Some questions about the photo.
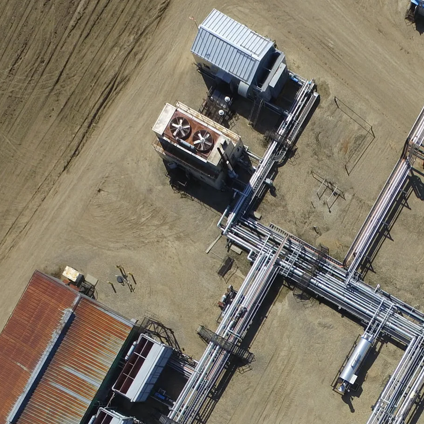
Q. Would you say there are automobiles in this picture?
No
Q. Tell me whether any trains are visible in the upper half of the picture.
No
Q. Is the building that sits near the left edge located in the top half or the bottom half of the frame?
bottom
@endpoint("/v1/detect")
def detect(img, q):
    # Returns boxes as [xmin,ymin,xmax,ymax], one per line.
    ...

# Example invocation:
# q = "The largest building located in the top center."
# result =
[190,9,296,111]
